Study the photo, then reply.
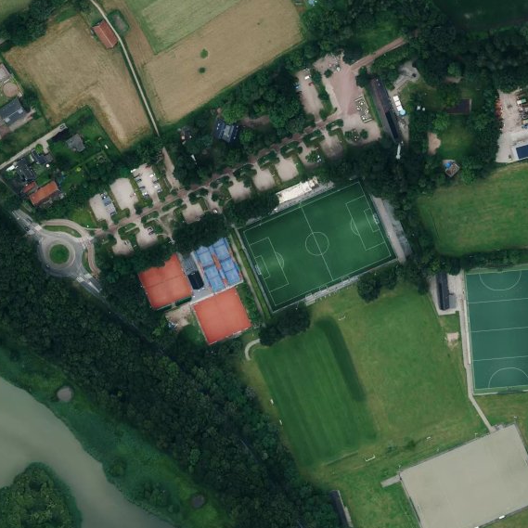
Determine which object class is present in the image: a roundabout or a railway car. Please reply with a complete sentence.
This aerial view contains a roundabout.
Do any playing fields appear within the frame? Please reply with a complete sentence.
Yes, the frame does contain a playing field.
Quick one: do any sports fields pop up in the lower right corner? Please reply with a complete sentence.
Yes, a sports field shows up in the lower right corner.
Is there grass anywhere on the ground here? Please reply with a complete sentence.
Yes, there's grass in this view.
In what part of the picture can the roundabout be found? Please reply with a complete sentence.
The roundabout appears toward the left of the photo.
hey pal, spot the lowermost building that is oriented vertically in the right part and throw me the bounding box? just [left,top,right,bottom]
[437,273,450,310]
